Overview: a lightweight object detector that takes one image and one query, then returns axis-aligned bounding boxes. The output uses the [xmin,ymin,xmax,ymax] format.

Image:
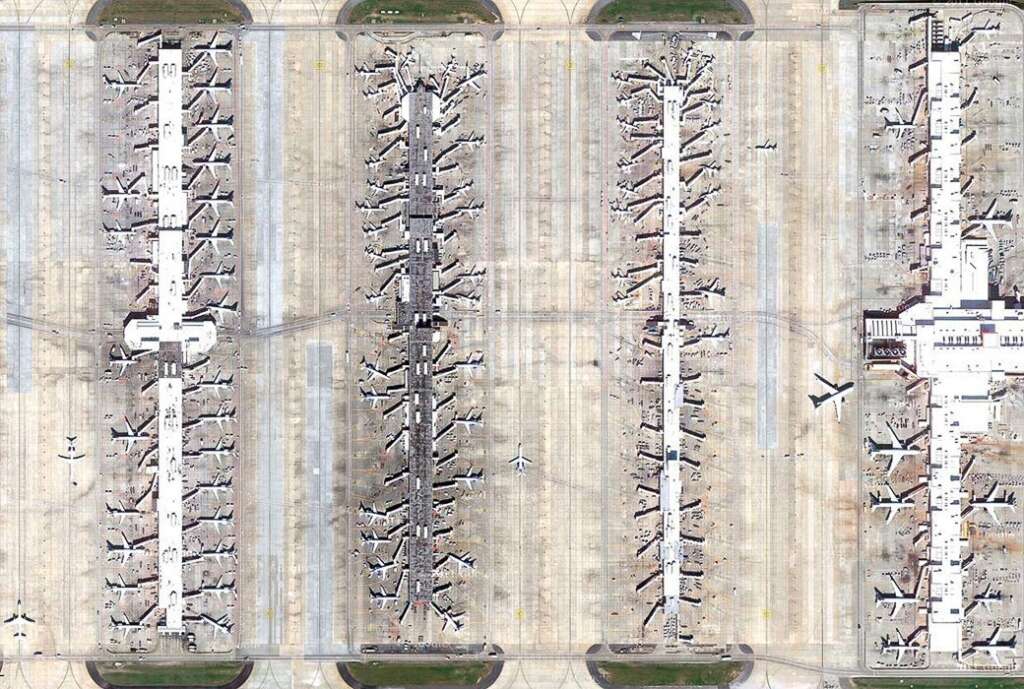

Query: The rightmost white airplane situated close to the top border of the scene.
[972,20,1000,41]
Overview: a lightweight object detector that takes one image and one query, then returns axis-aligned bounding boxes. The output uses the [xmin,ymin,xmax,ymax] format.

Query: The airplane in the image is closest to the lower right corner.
[972,628,1017,667]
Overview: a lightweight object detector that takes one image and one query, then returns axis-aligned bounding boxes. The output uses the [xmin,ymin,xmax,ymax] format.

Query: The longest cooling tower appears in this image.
[866,339,908,361]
